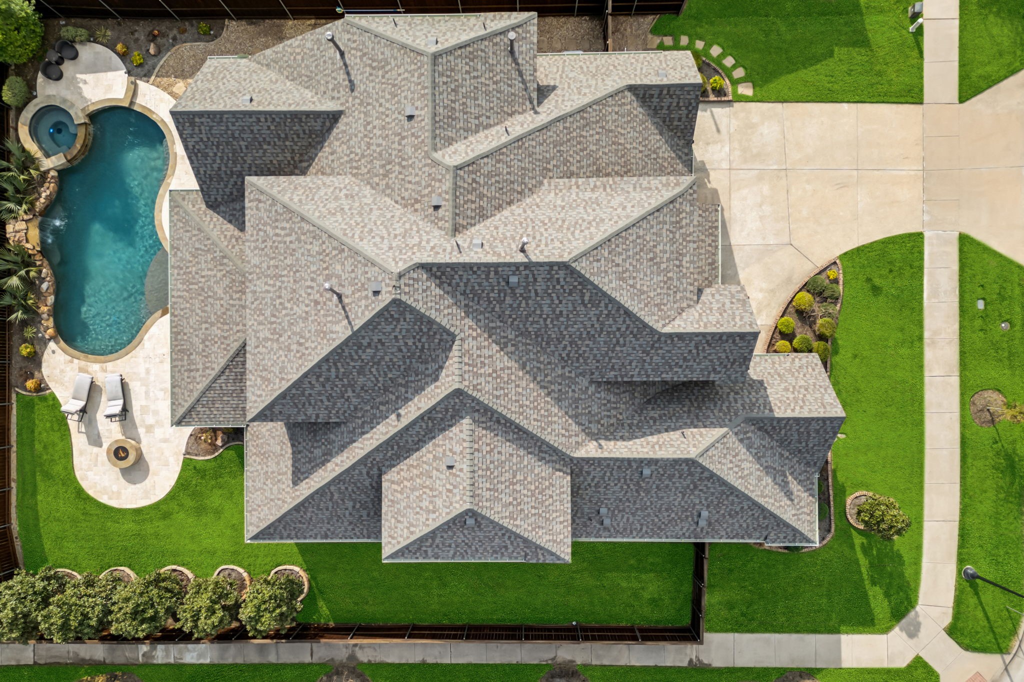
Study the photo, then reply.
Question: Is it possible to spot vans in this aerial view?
No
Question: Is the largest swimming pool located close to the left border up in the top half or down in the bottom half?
top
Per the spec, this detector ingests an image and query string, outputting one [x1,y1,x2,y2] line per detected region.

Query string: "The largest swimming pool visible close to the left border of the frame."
[41,75,176,363]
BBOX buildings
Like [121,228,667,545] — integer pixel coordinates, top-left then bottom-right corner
[168,10,846,566]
